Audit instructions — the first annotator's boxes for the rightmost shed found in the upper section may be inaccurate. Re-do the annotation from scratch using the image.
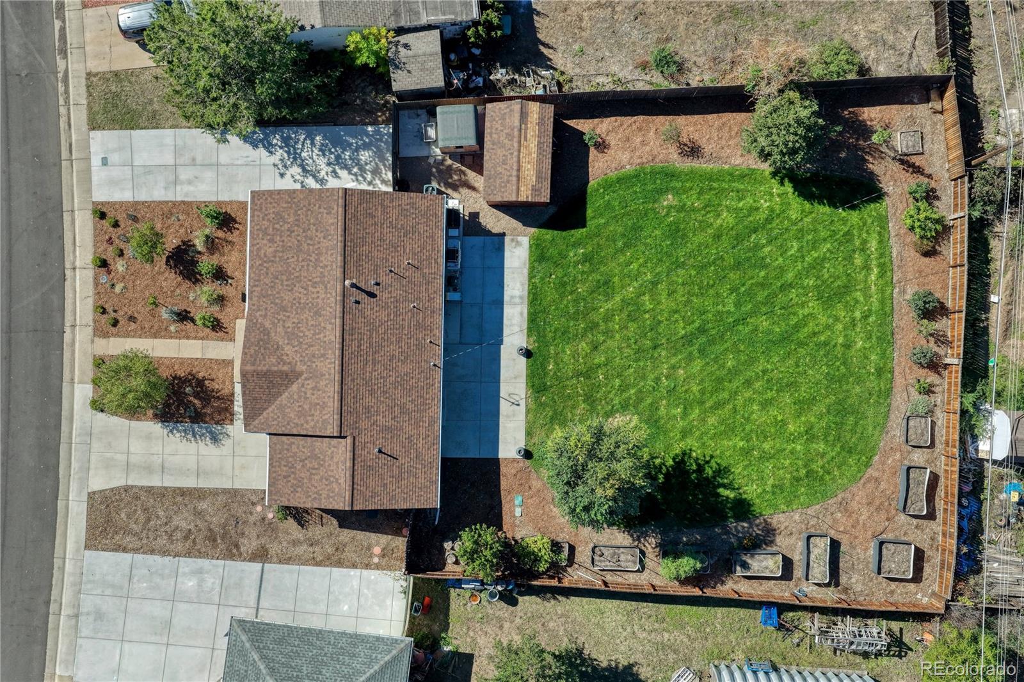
[483,100,554,206]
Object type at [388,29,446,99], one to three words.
shed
